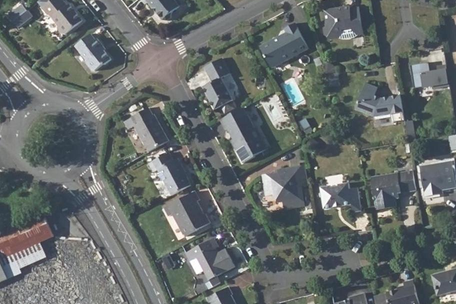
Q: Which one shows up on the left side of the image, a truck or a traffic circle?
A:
traffic circle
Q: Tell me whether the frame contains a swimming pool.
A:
Yes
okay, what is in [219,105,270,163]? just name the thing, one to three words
house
